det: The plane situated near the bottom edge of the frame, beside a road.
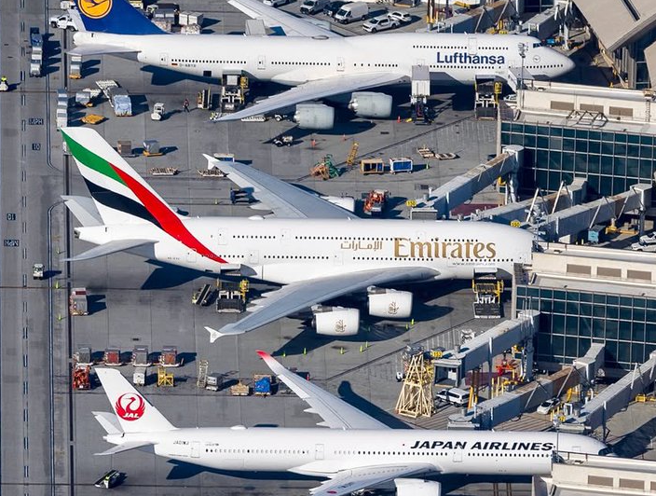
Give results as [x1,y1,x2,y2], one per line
[93,352,615,496]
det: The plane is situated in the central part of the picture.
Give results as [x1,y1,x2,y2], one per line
[60,127,539,336]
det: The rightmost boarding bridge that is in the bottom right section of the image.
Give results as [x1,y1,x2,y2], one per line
[547,346,656,446]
